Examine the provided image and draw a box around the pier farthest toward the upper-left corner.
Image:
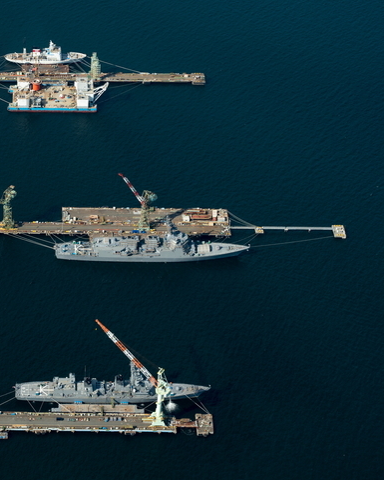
[0,70,205,87]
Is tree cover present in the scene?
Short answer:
No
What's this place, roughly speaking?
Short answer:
port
